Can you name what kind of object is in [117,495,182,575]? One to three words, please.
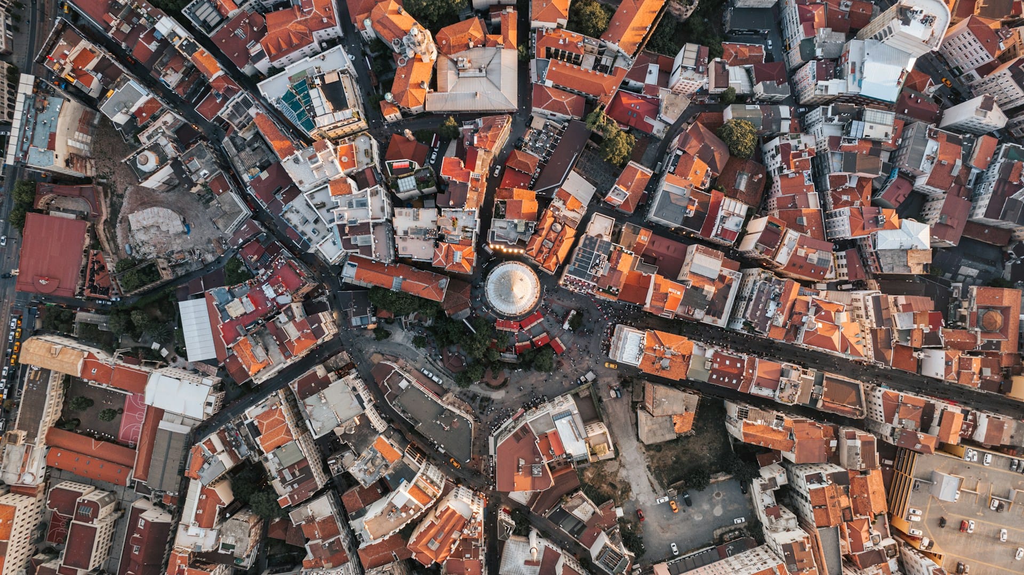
house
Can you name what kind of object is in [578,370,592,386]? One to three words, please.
vehicle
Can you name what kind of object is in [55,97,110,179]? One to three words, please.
building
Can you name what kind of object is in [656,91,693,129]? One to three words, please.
building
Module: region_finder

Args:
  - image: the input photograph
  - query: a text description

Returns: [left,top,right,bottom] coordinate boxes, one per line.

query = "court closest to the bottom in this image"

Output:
[48,513,69,546]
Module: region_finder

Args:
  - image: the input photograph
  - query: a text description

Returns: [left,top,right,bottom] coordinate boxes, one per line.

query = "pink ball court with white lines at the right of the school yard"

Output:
[120,394,144,440]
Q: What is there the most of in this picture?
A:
buildings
